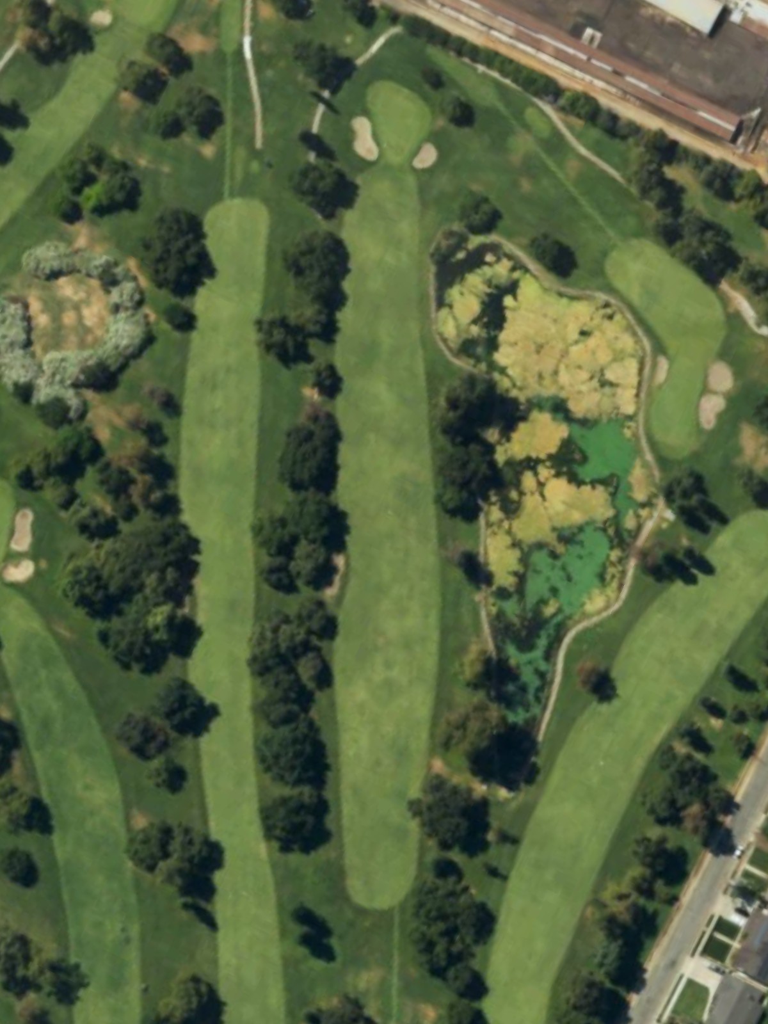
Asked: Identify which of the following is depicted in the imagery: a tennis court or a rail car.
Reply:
rail car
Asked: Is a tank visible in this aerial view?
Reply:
No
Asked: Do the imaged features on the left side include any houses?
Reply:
No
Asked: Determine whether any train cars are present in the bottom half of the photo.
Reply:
No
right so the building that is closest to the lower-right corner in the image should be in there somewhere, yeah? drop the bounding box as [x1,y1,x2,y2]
[702,974,765,1024]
